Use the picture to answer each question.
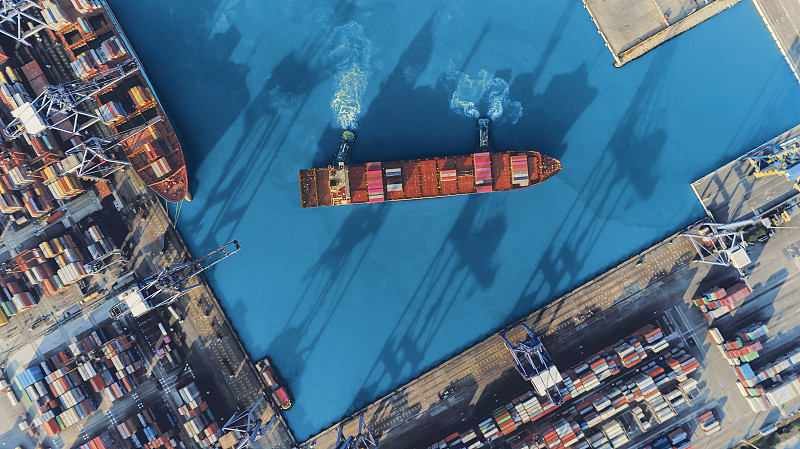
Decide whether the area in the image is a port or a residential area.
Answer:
port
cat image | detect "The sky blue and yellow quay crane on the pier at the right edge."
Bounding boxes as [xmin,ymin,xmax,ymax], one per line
[743,138,800,187]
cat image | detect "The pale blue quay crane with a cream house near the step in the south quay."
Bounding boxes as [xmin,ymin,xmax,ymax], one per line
[677,210,773,280]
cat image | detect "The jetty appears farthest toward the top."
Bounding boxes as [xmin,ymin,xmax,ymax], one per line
[583,0,712,57]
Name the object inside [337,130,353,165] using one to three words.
boat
